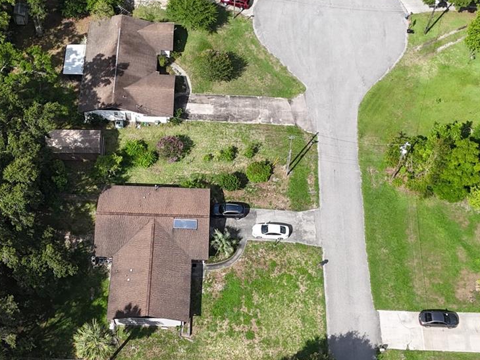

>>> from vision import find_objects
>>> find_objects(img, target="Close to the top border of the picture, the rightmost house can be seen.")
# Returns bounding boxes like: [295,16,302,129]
[62,13,175,124]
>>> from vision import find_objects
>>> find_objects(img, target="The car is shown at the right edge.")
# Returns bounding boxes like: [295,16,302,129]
[418,308,460,326]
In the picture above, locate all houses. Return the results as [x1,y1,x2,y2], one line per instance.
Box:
[94,183,210,327]
[62,13,175,124]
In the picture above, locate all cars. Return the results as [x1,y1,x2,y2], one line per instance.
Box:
[212,201,249,218]
[224,0,251,8]
[418,308,460,326]
[252,221,290,239]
